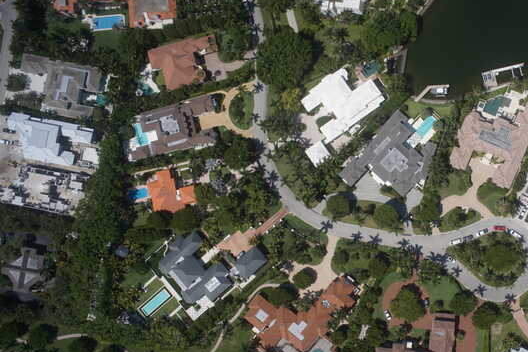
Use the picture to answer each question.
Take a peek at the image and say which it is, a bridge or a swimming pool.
swimming pool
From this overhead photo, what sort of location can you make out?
residential area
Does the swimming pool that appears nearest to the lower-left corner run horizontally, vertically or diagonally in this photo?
diagonally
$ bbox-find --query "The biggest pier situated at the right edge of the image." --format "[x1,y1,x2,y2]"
[481,62,526,90]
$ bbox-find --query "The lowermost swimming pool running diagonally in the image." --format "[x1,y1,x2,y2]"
[141,289,172,316]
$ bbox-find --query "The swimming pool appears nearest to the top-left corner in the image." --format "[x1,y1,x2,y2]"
[92,13,125,31]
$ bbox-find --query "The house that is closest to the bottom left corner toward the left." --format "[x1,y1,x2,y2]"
[1,238,57,301]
